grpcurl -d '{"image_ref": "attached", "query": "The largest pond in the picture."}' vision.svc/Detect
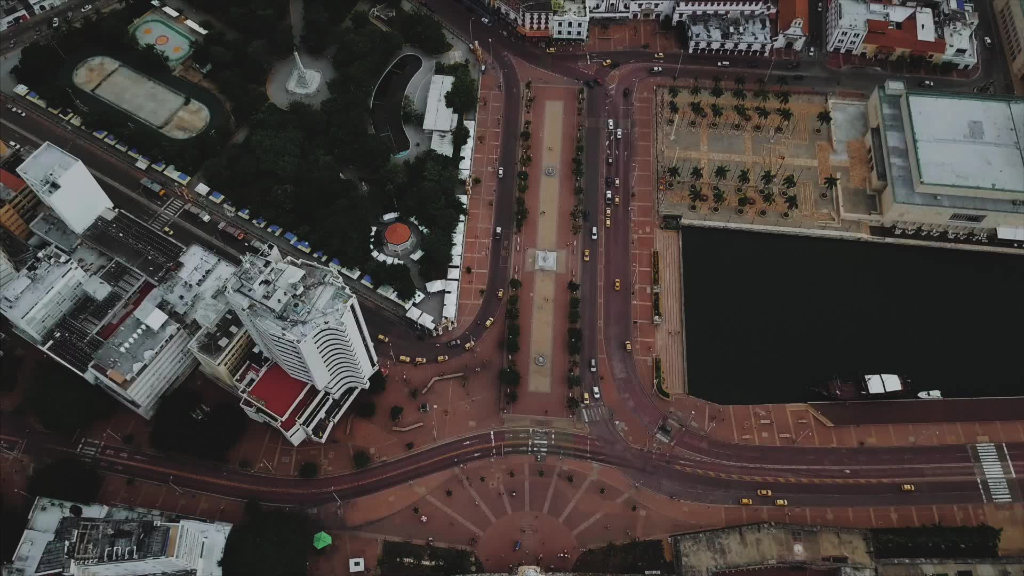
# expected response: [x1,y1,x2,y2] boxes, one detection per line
[370,53,423,157]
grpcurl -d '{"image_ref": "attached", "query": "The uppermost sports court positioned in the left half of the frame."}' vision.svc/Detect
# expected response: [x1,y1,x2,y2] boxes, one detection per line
[127,8,199,68]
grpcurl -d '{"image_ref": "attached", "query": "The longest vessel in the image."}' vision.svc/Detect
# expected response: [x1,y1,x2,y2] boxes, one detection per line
[817,373,915,400]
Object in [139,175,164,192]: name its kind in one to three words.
vehicle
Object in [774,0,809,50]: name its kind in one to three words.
building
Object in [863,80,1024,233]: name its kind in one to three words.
building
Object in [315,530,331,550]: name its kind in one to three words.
umbrella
